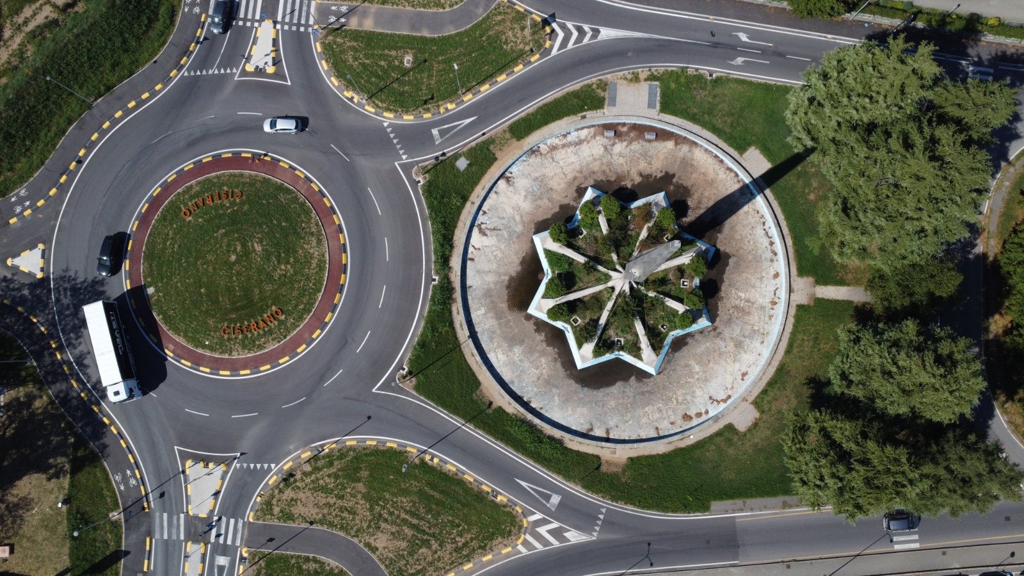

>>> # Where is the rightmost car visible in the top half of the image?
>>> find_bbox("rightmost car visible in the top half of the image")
[264,117,301,136]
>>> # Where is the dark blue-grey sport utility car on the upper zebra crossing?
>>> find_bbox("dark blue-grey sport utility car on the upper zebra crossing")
[210,0,234,34]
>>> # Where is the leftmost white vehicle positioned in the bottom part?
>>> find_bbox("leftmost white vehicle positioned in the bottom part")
[82,300,146,409]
